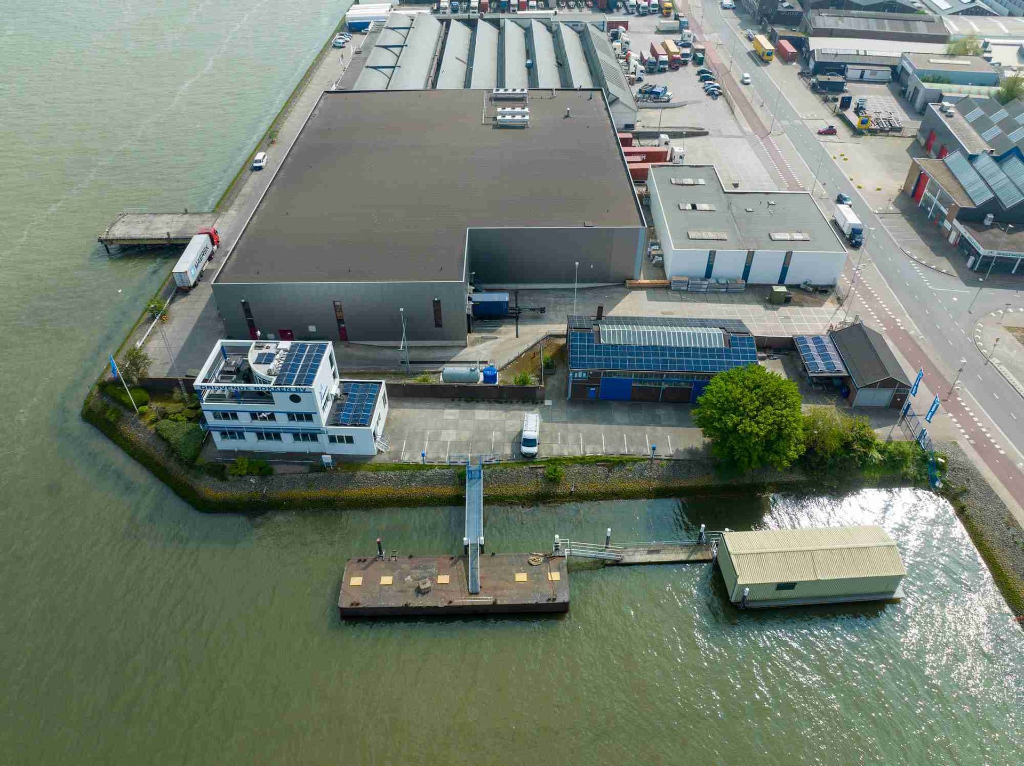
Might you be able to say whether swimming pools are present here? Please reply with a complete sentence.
No, I can't see a single swimming pool in this photo.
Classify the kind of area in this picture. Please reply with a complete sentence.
The area seen from above is a port.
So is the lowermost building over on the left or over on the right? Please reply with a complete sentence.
The lowermost building sits on the right side.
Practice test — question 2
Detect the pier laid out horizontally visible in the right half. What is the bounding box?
[622,537,719,565]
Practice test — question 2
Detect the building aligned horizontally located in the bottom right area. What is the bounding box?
[719,524,906,612]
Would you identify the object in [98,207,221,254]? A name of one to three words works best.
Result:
pier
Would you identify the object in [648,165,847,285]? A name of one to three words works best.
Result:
building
